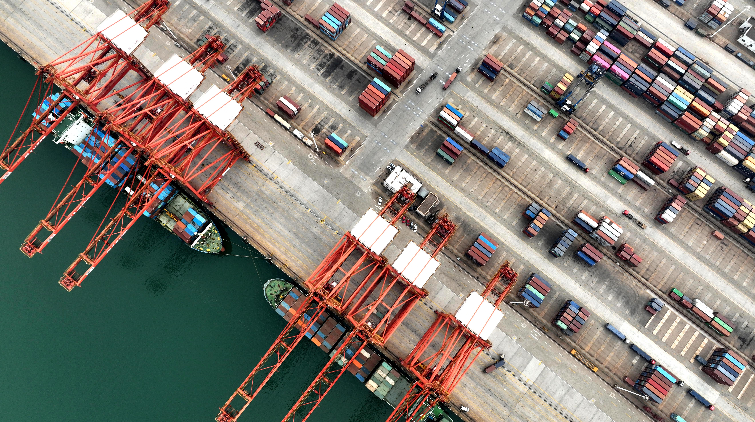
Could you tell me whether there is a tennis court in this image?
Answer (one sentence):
No, I find no tennis court anywhere in the image.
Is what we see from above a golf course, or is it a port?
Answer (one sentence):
The area seen from above is a port.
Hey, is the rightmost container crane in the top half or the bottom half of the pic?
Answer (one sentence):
It is in the top half that the rightmost container crane appears.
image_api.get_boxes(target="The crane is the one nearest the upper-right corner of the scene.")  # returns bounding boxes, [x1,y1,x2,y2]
[555,60,607,115]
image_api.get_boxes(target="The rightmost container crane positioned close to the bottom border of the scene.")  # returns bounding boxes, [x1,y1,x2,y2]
[383,263,521,422]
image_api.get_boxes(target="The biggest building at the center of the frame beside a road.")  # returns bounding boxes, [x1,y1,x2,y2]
[384,167,420,194]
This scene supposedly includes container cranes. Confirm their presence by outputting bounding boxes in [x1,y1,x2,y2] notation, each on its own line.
[215,184,417,422]
[19,33,226,257]
[555,60,607,115]
[278,215,458,422]
[383,263,521,422]
[60,65,265,292]
[0,0,172,184]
